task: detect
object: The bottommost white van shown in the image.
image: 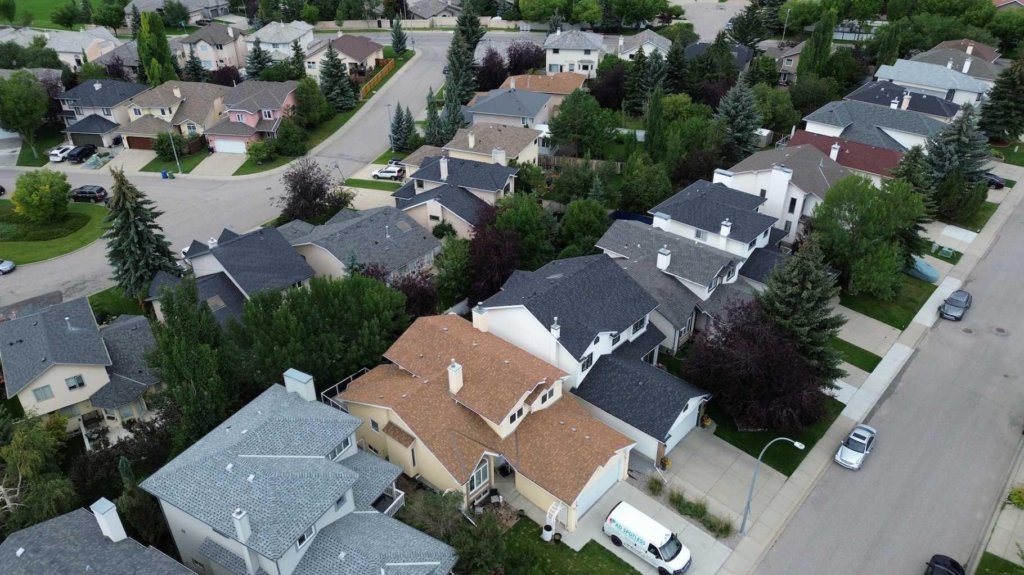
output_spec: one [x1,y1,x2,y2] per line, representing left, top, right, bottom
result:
[594,501,694,575]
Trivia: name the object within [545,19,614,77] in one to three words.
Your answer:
house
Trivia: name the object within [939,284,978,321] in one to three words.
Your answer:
car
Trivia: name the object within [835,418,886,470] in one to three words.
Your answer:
car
